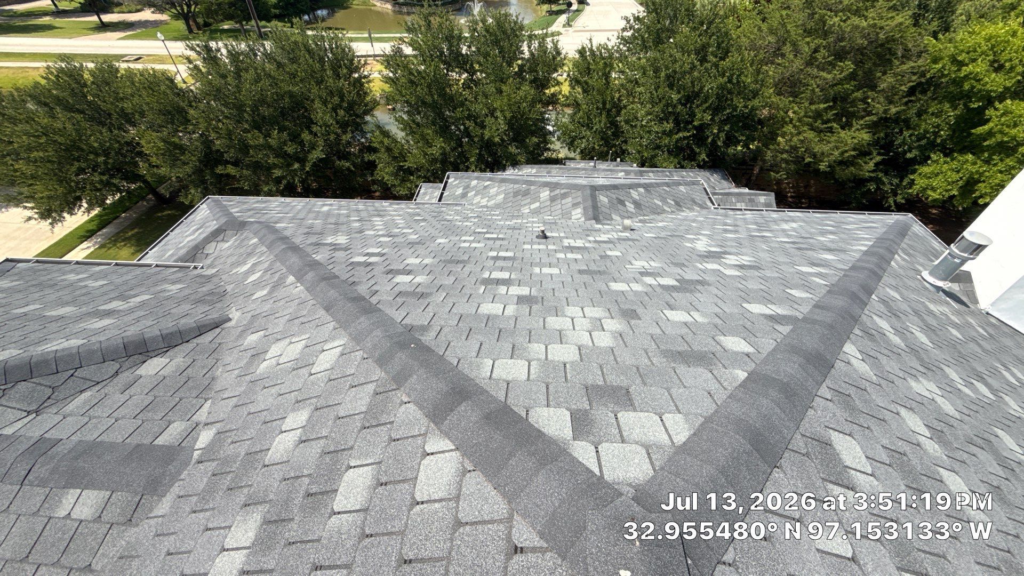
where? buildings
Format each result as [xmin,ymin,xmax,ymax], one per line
[0,148,1024,576]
